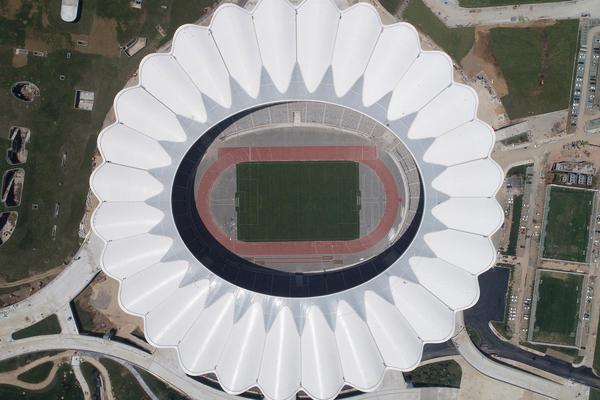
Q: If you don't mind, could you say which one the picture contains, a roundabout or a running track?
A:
running track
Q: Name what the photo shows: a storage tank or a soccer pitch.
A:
soccer pitch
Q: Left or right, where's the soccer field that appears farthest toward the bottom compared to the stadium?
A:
to the right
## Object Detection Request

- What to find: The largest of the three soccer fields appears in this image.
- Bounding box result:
[236,161,359,241]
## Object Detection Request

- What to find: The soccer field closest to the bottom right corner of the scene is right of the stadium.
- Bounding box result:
[528,270,584,348]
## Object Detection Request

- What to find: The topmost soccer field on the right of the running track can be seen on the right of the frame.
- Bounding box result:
[540,184,598,264]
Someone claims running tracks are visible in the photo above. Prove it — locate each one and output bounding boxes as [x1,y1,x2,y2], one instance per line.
[196,148,399,255]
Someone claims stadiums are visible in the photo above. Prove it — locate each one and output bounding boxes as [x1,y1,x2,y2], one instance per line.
[91,0,503,400]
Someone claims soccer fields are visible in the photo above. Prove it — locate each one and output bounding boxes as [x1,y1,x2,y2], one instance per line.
[540,184,598,264]
[528,270,584,348]
[236,161,359,241]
